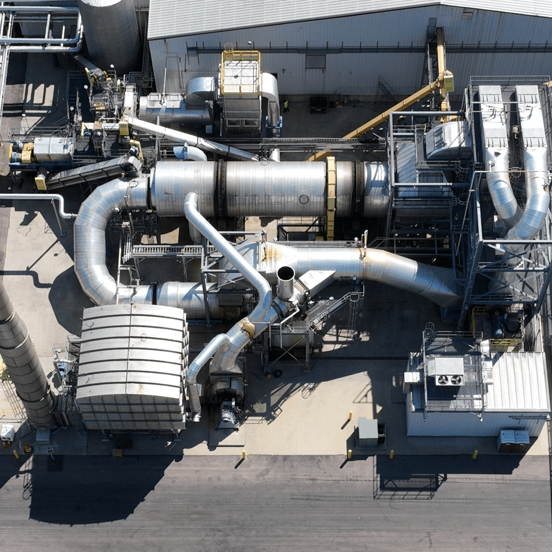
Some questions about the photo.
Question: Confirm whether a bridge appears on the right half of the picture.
No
